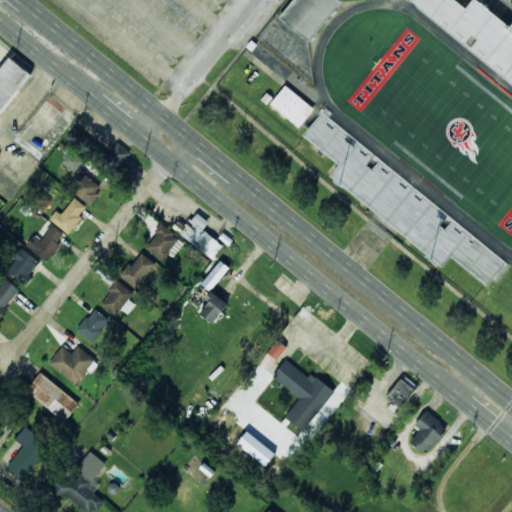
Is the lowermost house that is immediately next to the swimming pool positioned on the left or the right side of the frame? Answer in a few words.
left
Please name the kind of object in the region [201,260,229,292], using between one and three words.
barn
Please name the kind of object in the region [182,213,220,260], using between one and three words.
building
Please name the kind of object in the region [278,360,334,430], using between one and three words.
building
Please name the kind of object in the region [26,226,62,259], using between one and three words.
house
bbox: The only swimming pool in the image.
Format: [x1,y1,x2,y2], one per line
[109,466,130,486]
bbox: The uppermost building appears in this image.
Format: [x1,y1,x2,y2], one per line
[280,0,341,40]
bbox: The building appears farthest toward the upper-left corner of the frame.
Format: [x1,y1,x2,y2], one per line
[0,58,30,113]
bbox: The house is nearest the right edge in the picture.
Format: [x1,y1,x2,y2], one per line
[411,410,448,454]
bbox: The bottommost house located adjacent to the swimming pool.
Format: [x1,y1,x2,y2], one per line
[54,452,108,512]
